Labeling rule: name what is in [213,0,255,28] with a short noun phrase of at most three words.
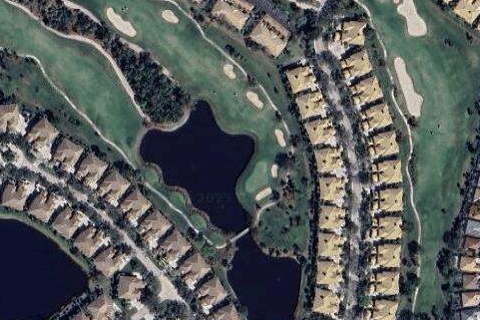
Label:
building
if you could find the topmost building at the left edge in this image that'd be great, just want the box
[0,104,20,129]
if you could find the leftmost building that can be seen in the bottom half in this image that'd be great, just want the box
[0,180,30,212]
